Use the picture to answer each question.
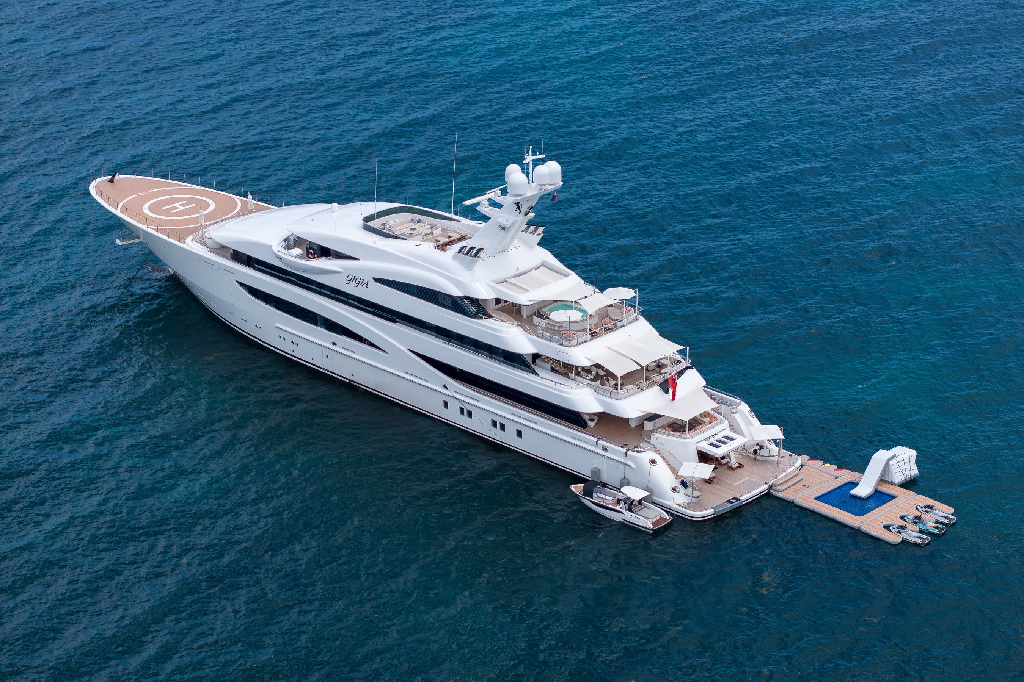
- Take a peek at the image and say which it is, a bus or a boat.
boat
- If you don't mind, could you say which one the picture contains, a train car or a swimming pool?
swimming pool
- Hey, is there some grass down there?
No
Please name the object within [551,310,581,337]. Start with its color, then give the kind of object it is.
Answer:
white umbrella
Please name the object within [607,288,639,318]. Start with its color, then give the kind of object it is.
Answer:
white umbrella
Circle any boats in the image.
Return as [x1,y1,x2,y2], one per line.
[907,513,944,537]
[569,480,676,539]
[892,525,929,548]
[92,133,797,521]
[919,504,956,527]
